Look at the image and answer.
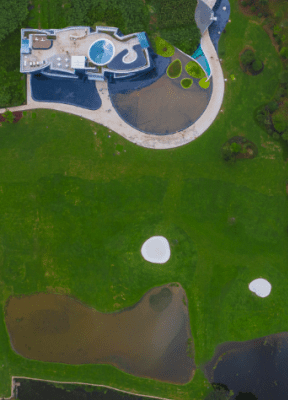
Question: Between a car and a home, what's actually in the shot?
home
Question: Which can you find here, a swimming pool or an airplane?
swimming pool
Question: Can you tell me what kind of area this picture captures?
golf course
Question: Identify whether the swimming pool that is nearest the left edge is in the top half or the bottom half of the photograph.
top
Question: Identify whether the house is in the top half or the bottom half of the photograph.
top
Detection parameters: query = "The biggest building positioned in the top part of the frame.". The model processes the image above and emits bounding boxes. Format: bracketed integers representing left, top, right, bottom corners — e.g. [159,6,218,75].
[20,27,153,80]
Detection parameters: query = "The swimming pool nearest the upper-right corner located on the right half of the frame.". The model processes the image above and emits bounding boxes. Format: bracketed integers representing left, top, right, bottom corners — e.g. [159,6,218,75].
[194,46,211,76]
